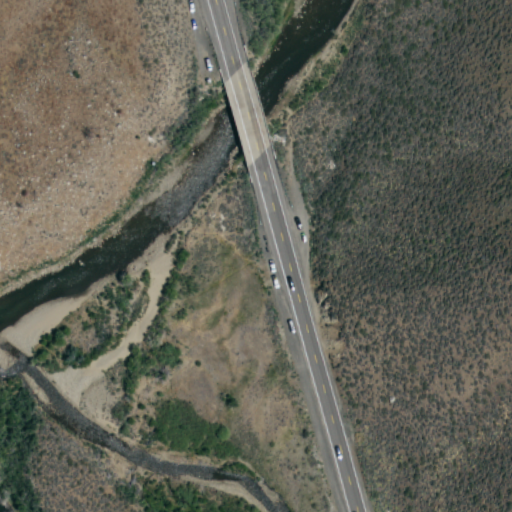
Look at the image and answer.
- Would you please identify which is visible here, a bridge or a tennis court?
bridge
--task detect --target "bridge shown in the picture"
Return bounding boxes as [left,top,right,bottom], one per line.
[223,56,272,170]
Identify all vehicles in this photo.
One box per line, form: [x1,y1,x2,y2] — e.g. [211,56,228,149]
[301,232,308,245]
[288,278,296,291]
[335,447,342,460]
[270,259,278,274]
[274,275,282,290]
[294,216,302,230]
[190,0,196,14]
[192,18,198,30]
[206,58,214,72]
[289,320,296,334]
